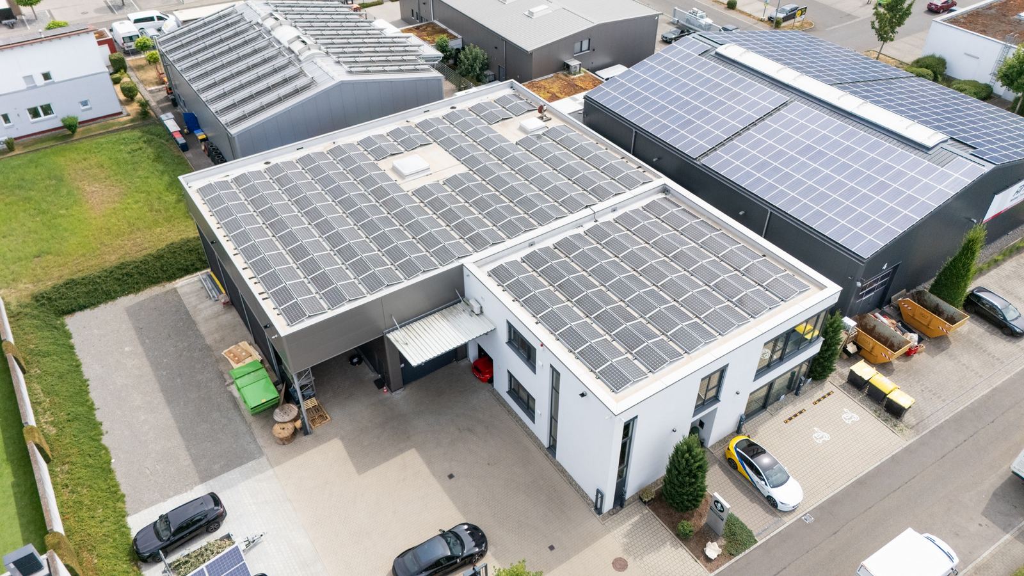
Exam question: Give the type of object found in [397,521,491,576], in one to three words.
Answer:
car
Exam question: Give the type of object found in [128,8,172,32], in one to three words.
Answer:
vehicle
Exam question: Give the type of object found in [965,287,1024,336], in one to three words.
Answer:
car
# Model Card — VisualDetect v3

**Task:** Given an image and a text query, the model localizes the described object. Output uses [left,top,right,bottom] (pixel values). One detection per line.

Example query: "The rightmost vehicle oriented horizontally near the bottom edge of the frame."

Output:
[856,526,963,576]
